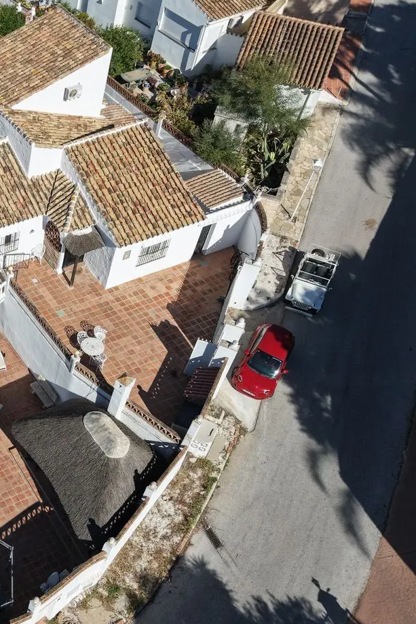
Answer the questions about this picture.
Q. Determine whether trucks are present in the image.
No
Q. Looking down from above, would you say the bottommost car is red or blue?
red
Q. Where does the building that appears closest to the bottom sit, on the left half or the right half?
left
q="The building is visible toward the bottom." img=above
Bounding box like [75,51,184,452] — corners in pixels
[11,398,163,552]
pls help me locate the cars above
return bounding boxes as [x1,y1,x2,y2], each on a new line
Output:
[233,319,302,399]
[284,238,347,318]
